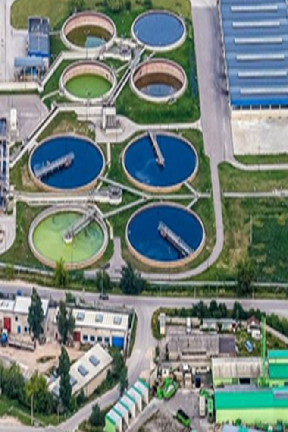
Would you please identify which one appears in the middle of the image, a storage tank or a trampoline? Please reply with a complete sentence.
The feature located in the middle of the image is a storage tank.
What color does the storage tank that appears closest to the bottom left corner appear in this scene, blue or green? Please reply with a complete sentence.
The color of the storage tank that appears closest to the bottom left corner is green.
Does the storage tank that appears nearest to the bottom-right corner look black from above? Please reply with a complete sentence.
No, the color of the storage tank that appears nearest to the bottom-right corner is blue.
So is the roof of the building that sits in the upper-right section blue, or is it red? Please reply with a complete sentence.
The color of the roof of the building that sits in the upper-right section is blue.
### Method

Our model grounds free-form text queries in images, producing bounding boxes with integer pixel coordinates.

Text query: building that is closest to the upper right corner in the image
[216,0,288,116]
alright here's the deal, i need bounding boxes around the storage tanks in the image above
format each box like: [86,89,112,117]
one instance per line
[27,201,108,269]
[129,57,188,102]
[60,10,116,52]
[131,8,187,51]
[28,131,105,192]
[122,129,198,190]
[58,57,118,103]
[125,199,206,266]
